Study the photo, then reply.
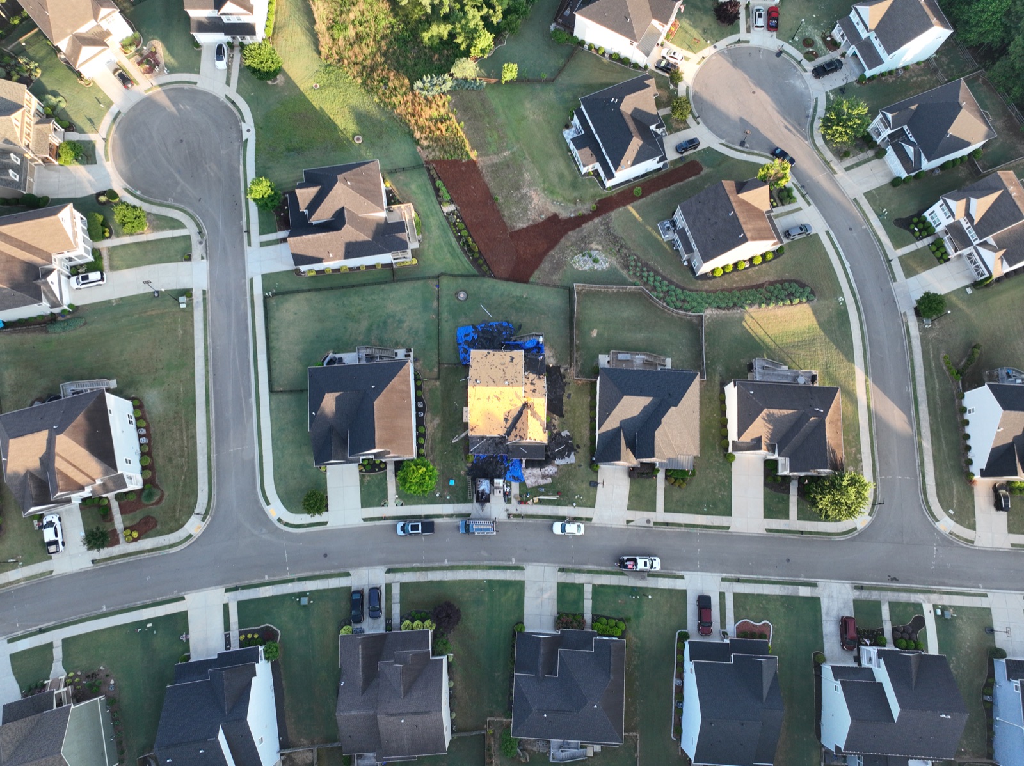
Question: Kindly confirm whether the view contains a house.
Yes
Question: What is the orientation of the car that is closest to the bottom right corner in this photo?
from top to bottom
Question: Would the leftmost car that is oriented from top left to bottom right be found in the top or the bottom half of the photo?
top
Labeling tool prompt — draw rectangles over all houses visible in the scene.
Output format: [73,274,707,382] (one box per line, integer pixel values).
[307,344,417,467]
[869,72,997,179]
[0,202,88,320]
[831,0,944,80]
[990,659,1024,766]
[149,646,273,766]
[468,330,548,460]
[563,70,674,190]
[684,638,786,766]
[726,356,844,476]
[822,646,975,766]
[655,177,784,275]
[958,365,1024,479]
[922,153,1024,280]
[335,630,448,766]
[0,378,137,516]
[0,81,63,198]
[183,0,267,47]
[15,0,138,79]
[284,160,419,274]
[0,673,108,766]
[553,0,685,67]
[511,629,628,764]
[594,348,700,471]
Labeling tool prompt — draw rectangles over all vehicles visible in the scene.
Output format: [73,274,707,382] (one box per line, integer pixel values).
[350,589,365,625]
[367,585,383,620]
[671,136,703,157]
[838,614,858,651]
[752,6,766,31]
[618,556,661,572]
[780,222,813,242]
[396,520,436,536]
[112,66,135,90]
[765,9,779,32]
[551,521,585,536]
[808,59,843,81]
[43,513,66,557]
[72,271,106,289]
[214,43,229,69]
[989,481,1011,514]
[694,593,713,637]
[657,48,686,66]
[768,144,796,168]
[459,519,496,535]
